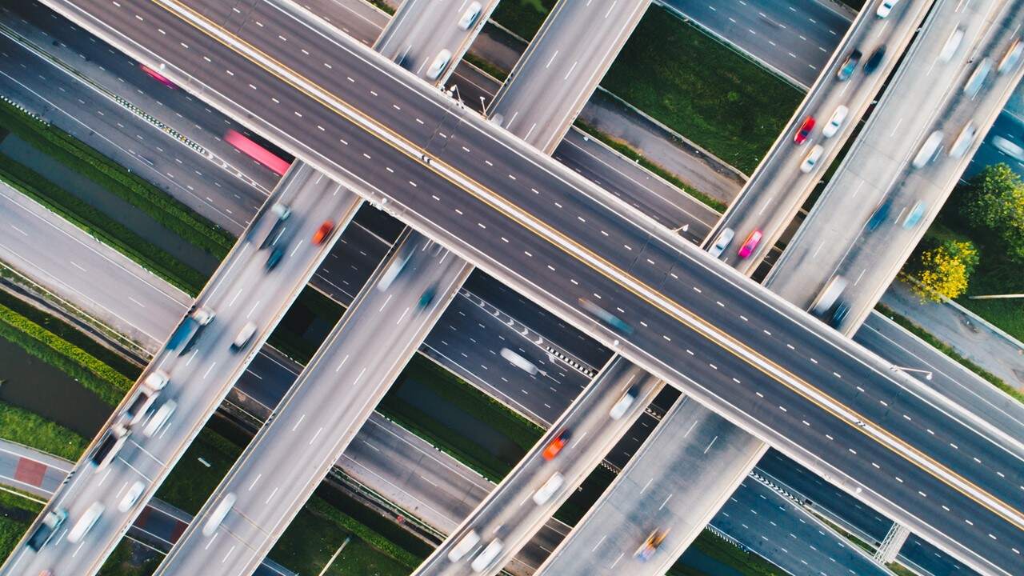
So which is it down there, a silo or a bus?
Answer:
bus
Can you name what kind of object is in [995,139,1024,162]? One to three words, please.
vehicle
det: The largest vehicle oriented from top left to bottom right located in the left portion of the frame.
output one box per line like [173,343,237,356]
[223,128,290,177]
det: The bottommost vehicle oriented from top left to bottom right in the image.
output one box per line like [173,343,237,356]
[504,350,535,374]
